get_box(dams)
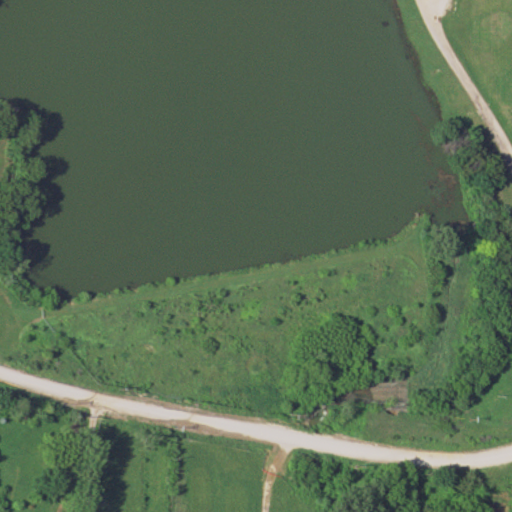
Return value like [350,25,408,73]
[45,234,408,330]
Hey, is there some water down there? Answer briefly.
Yes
